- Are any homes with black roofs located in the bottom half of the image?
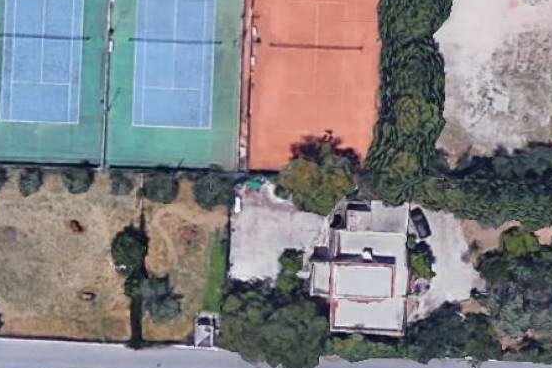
No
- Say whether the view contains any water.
No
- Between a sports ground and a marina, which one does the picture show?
sports ground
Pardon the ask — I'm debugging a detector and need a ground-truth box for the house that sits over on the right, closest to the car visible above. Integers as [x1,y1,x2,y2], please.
[305,201,408,335]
